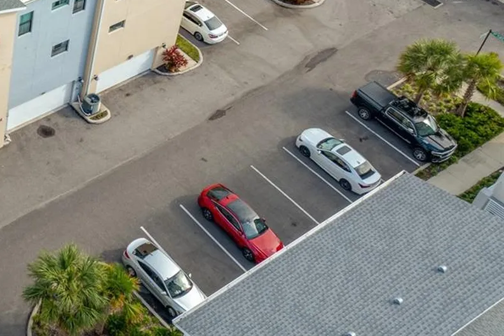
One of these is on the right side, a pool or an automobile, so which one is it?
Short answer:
automobile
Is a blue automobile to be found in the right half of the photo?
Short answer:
No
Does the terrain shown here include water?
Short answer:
No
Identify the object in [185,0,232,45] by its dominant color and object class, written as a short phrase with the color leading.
white car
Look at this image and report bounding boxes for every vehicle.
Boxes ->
[346,85,459,170]
[123,237,205,318]
[297,132,385,198]
[185,0,232,45]
[198,186,285,265]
